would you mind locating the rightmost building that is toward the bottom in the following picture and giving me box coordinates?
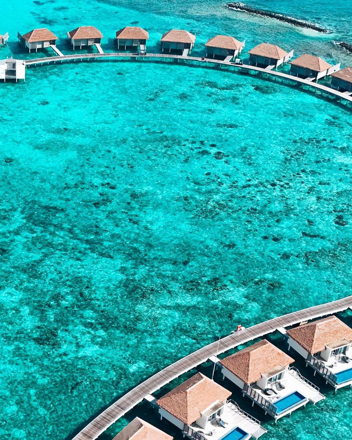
[285,315,352,404]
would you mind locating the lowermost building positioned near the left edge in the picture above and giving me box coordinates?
[0,55,25,89]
